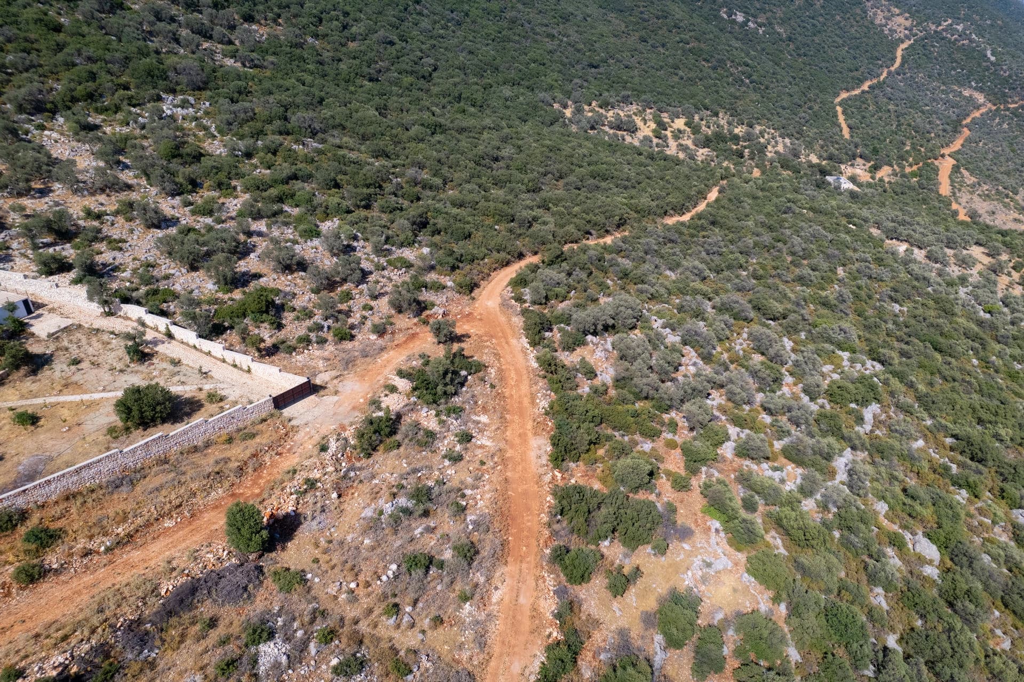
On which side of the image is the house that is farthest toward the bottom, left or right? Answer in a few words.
left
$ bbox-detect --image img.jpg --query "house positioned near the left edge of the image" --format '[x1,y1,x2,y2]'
[0,283,33,323]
